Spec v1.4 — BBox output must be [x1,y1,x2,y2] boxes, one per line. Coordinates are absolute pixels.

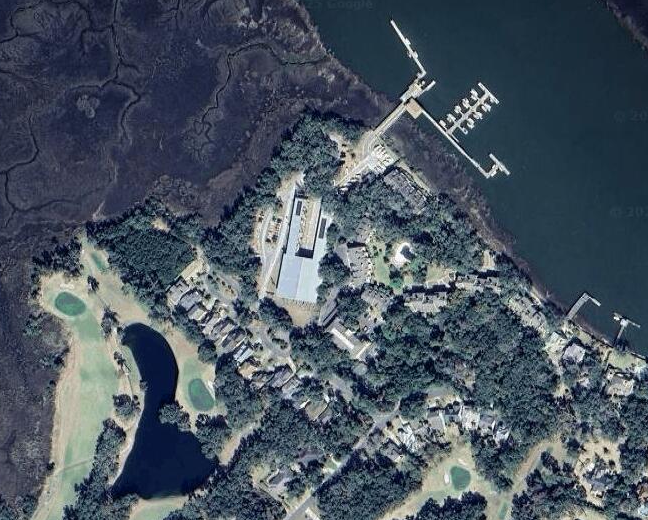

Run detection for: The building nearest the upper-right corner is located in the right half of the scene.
[385,168,432,206]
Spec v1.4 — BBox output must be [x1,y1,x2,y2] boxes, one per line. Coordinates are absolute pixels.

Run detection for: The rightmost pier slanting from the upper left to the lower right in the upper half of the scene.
[421,107,509,177]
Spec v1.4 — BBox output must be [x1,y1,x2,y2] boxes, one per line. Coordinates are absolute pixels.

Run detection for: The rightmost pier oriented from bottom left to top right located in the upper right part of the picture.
[445,82,499,142]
